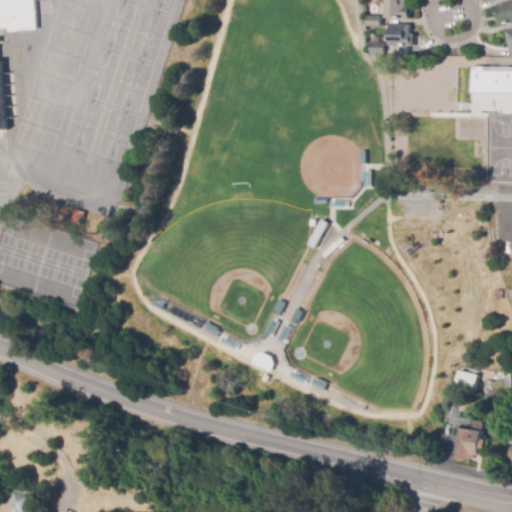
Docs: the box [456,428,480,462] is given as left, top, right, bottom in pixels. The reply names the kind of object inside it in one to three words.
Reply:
house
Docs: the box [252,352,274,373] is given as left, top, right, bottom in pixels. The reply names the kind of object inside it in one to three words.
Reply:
building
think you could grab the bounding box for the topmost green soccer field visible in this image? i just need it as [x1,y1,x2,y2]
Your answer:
[142,0,386,260]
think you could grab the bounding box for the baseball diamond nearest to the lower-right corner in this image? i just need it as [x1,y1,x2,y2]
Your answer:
[286,236,425,412]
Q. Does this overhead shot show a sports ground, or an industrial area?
sports ground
